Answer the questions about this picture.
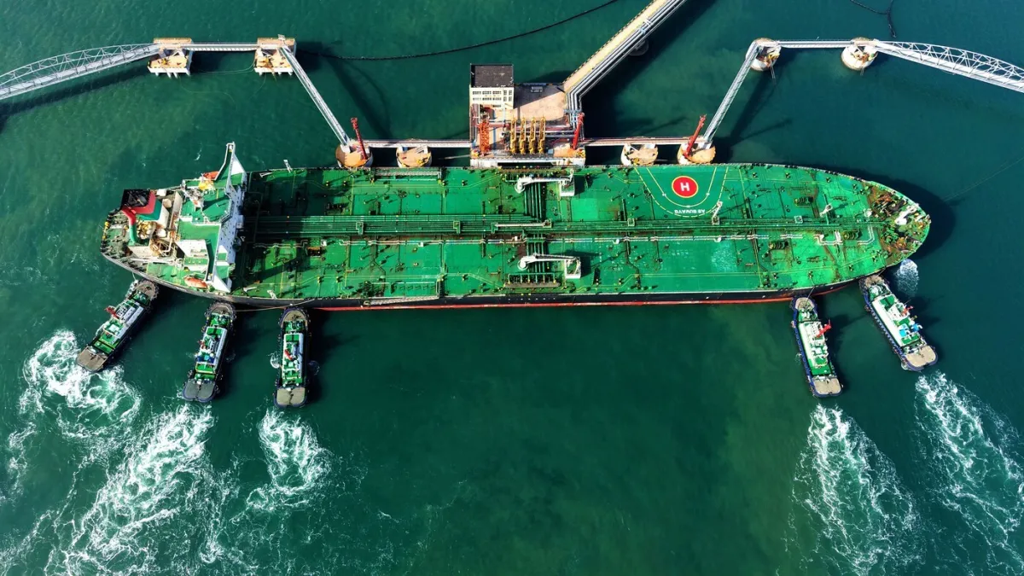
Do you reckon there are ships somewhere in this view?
Yes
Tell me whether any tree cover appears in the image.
No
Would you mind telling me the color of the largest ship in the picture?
green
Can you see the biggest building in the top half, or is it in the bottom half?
top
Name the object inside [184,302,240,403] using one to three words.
boat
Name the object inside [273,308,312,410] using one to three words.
boat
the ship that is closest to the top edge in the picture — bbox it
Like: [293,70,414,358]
[98,141,934,311]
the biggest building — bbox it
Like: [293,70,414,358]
[469,62,514,115]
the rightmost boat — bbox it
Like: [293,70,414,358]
[859,274,934,373]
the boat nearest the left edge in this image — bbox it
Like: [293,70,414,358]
[80,279,164,376]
